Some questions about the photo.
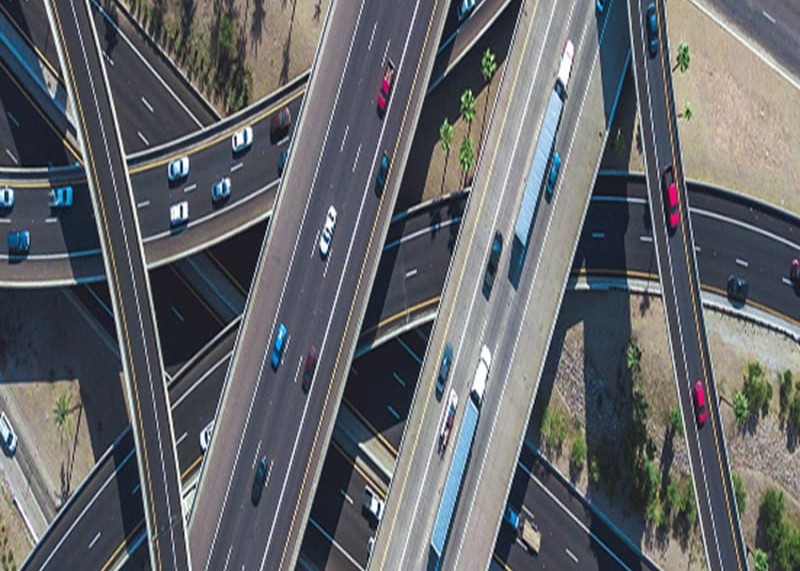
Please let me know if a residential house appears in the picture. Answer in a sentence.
No, there appears to be no residential house in this shot.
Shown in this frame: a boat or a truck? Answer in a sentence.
This aerial view contains a truck.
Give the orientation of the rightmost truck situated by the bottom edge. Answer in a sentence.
From this overhead view, the rightmost truck situated by the bottom edge appears to run diagonally.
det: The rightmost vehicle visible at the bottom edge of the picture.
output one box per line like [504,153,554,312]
[504,501,538,551]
